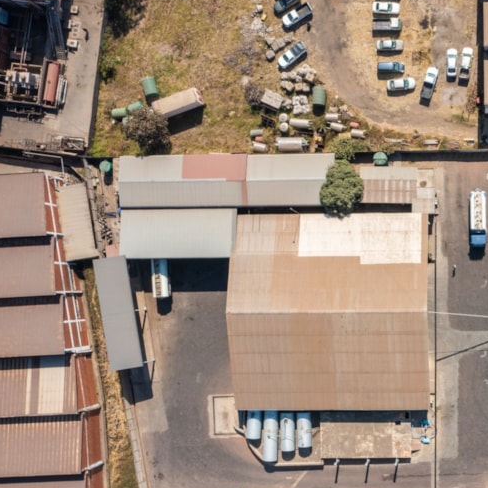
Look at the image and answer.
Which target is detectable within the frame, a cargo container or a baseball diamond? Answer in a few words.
cargo container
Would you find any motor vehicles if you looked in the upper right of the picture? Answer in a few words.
Yes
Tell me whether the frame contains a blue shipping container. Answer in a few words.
No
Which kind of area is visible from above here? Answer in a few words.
industrial area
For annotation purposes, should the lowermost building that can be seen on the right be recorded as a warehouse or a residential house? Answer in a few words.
warehouse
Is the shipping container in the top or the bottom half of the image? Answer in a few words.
top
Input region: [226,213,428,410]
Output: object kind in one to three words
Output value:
warehouse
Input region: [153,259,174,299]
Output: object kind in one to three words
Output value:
vehicle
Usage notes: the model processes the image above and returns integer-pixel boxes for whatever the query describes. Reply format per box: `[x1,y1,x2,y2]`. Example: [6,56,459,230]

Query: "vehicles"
[278,41,308,69]
[378,60,404,75]
[386,77,416,93]
[421,70,437,102]
[372,19,402,32]
[283,4,313,29]
[377,40,404,54]
[458,51,471,81]
[372,2,400,16]
[468,190,488,249]
[153,259,174,299]
[445,49,458,77]
[274,0,303,15]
